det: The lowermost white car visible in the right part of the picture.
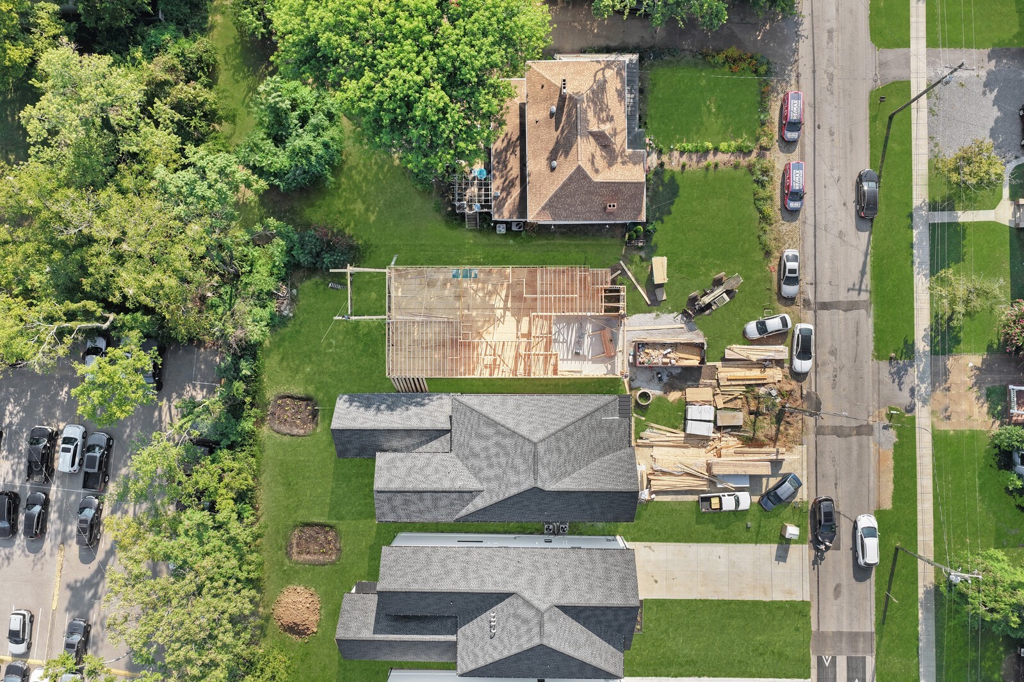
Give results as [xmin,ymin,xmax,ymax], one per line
[850,513,881,569]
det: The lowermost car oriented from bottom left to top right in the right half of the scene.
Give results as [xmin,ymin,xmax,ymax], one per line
[755,469,803,513]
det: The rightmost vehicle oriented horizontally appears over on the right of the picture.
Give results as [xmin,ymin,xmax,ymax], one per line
[740,313,793,341]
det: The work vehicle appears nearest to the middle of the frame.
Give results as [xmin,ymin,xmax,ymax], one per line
[670,272,748,329]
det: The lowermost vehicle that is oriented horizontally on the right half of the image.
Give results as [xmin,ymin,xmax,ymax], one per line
[695,490,751,515]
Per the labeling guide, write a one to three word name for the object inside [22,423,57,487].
truck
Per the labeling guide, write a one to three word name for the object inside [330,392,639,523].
house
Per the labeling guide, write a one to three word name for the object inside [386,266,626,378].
house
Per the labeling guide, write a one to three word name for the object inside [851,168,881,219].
car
